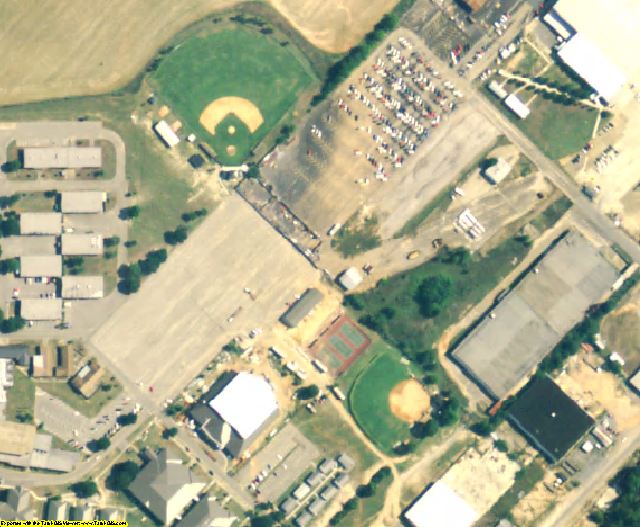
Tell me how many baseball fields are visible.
2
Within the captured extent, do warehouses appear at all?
Yes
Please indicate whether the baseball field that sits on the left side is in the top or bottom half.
top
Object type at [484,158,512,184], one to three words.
building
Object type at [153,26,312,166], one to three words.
baseball field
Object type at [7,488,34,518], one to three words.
house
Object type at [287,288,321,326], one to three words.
shed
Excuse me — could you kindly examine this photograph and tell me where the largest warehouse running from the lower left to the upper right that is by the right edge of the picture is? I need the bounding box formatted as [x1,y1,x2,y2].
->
[452,231,621,399]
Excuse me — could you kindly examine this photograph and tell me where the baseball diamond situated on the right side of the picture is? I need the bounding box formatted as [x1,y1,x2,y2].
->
[351,345,431,456]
